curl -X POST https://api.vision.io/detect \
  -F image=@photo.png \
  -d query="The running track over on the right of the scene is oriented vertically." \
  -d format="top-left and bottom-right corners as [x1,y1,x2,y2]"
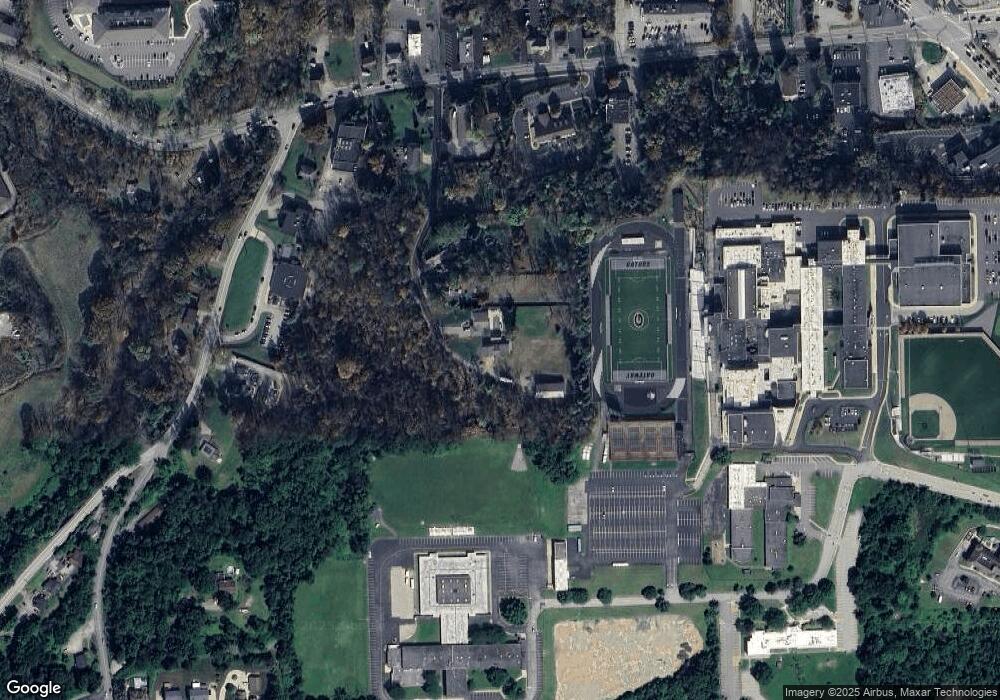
[592,222,689,476]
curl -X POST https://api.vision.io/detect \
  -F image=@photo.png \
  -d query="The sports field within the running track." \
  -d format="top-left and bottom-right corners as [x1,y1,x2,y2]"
[605,256,672,384]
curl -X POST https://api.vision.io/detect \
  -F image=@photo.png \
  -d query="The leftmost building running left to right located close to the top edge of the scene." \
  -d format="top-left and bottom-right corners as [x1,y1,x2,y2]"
[93,3,171,40]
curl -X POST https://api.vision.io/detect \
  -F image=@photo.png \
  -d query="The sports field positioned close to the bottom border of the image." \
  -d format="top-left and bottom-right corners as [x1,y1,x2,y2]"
[293,556,369,700]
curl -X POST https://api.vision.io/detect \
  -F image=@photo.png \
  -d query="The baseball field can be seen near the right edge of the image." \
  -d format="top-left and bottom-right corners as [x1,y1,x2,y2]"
[898,333,1000,444]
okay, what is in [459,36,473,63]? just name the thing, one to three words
building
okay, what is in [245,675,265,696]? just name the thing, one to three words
house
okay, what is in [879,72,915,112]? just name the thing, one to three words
building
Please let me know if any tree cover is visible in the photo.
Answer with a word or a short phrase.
Yes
